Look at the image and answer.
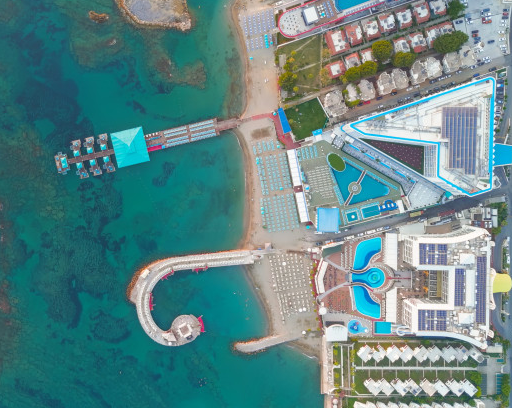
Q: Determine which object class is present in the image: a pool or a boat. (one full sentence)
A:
I can see a pool in this picture.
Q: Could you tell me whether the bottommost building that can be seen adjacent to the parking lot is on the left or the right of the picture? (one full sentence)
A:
You can find the bottommost building that can be seen adjacent to the parking lot on the right side of the picture.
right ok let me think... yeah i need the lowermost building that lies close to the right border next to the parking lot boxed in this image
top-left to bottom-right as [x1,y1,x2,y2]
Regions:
[331,76,512,210]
